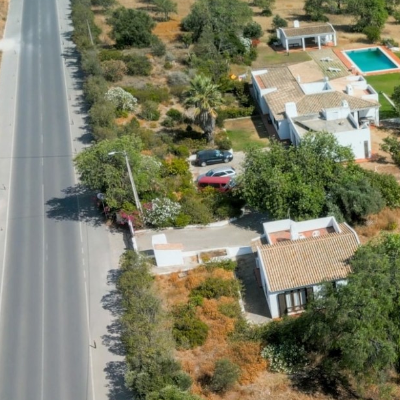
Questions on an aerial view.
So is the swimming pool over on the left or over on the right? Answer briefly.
right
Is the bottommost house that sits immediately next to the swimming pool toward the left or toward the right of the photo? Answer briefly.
right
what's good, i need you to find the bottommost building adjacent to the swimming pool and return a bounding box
[252,65,385,159]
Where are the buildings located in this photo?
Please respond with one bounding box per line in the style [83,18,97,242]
[269,19,340,53]
[155,234,182,265]
[255,215,361,322]
[252,65,385,159]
